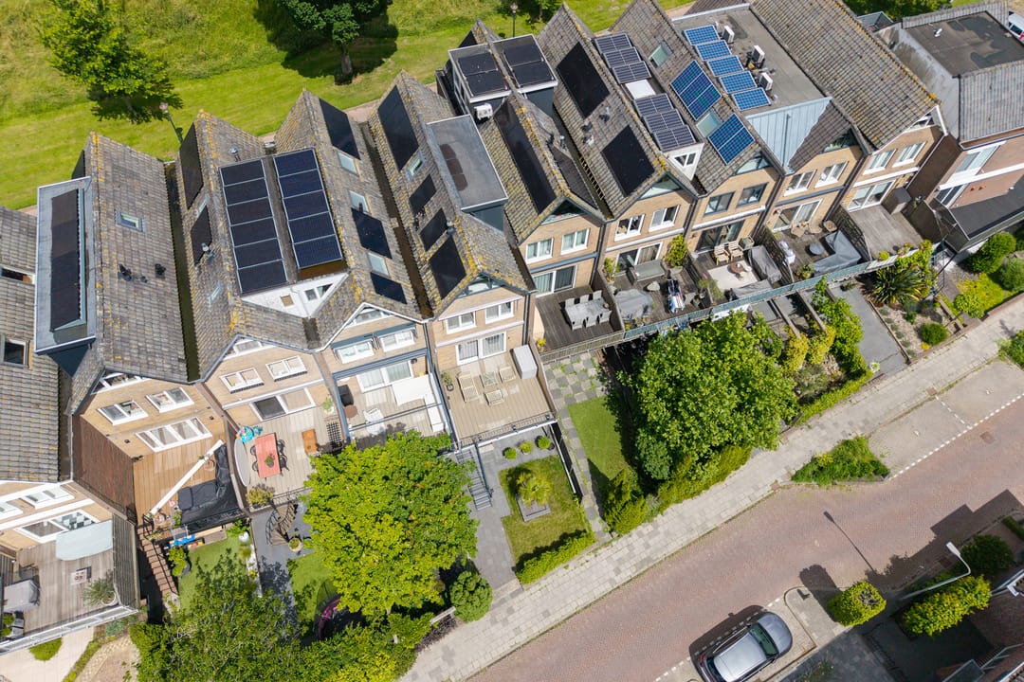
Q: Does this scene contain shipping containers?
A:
No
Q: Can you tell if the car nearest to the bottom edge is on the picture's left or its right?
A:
right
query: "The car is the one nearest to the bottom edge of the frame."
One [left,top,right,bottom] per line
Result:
[700,612,790,682]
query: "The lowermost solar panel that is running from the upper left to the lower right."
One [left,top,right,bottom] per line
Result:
[371,270,406,305]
